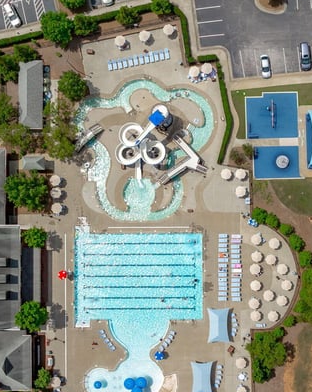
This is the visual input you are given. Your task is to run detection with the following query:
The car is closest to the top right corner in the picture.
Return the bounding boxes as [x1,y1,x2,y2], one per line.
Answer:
[299,44,312,71]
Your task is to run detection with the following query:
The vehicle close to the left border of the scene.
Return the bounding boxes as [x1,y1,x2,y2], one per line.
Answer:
[3,2,20,30]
